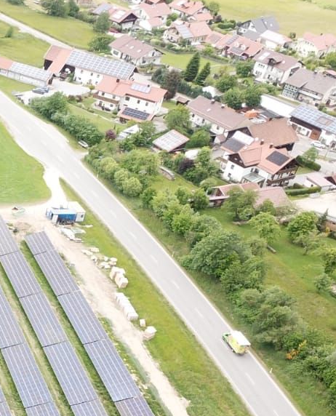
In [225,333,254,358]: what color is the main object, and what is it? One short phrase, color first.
white truck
